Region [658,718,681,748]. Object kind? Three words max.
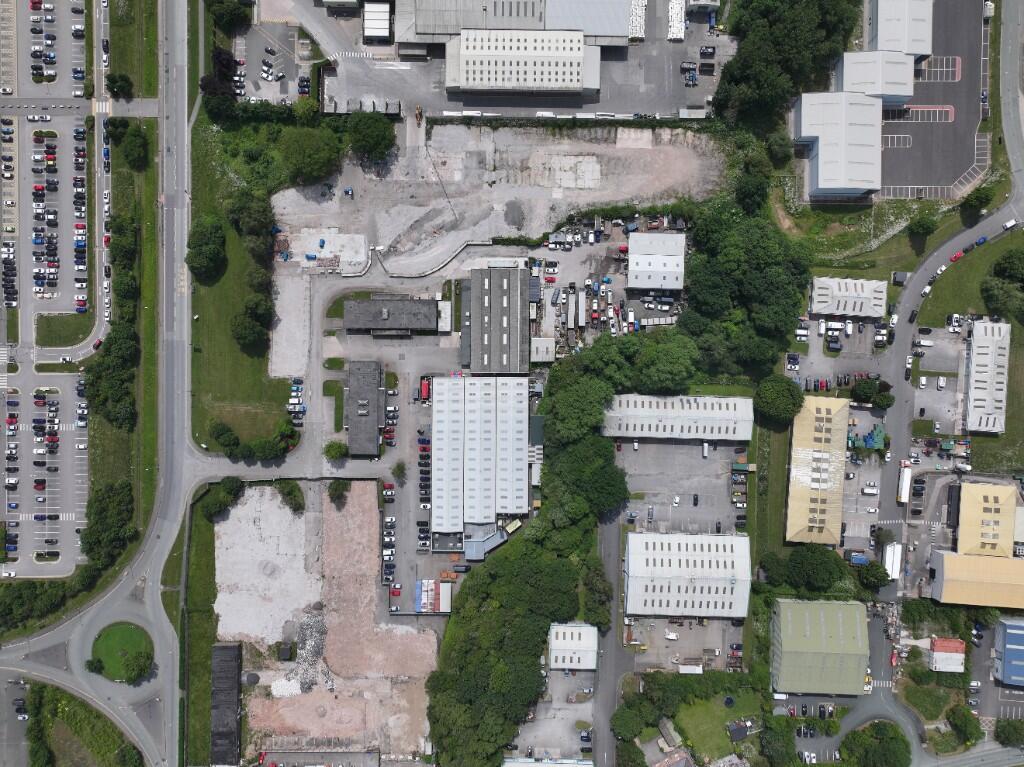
shed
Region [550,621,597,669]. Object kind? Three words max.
building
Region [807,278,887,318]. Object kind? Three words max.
building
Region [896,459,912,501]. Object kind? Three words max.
vehicle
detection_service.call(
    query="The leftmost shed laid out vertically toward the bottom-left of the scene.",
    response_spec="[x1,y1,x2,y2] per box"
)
[211,639,245,767]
